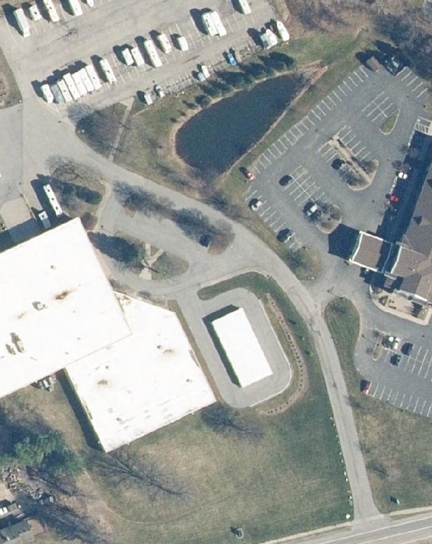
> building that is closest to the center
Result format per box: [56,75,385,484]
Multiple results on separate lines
[212,308,272,389]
